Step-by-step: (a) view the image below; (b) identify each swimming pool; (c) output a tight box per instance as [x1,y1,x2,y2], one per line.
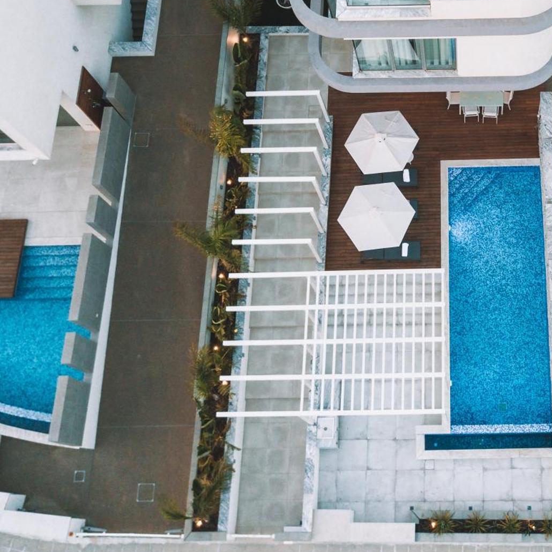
[416,159,552,459]
[0,235,106,447]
